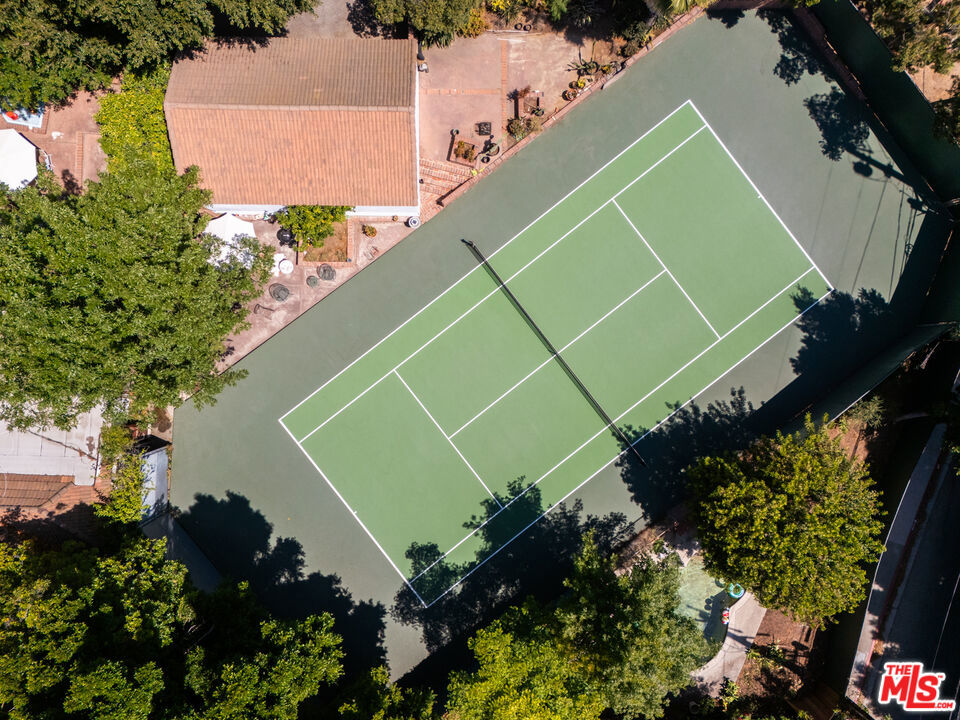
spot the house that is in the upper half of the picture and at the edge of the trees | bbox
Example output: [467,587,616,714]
[160,30,421,217]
